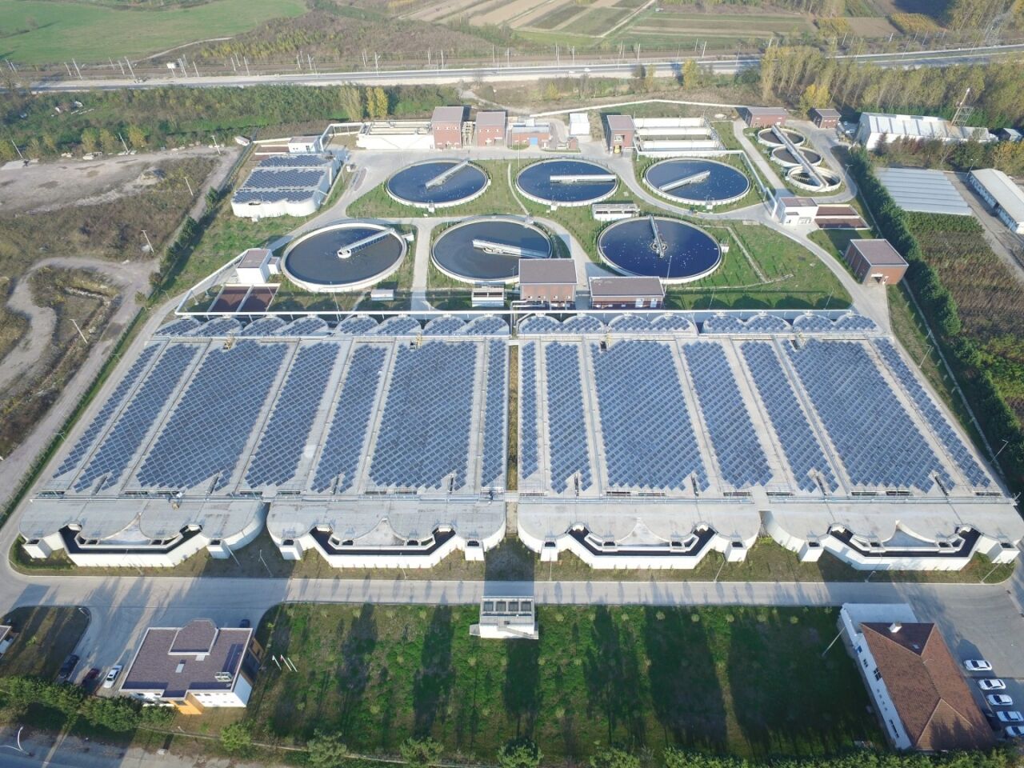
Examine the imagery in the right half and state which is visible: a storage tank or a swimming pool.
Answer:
storage tank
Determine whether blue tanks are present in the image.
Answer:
Yes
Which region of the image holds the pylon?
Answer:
top right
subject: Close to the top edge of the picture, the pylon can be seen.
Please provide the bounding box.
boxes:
[977,0,1022,47]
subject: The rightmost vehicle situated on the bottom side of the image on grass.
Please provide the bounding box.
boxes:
[238,610,252,628]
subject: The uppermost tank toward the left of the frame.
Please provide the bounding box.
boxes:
[359,119,433,149]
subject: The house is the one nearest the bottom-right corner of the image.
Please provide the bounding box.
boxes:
[833,605,993,753]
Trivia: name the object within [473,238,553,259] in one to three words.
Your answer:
bridge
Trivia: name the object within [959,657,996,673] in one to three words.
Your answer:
car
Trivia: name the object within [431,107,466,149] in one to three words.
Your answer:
building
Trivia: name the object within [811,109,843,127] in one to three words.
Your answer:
shed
